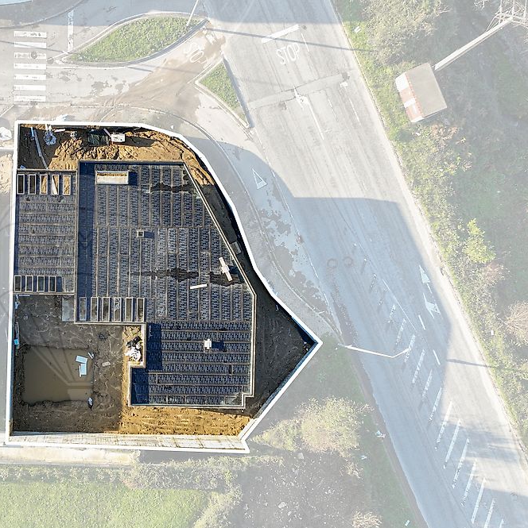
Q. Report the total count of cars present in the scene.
0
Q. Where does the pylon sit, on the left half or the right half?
right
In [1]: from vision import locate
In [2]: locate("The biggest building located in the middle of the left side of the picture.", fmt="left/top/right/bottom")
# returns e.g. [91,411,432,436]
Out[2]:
[11,161,256,410]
